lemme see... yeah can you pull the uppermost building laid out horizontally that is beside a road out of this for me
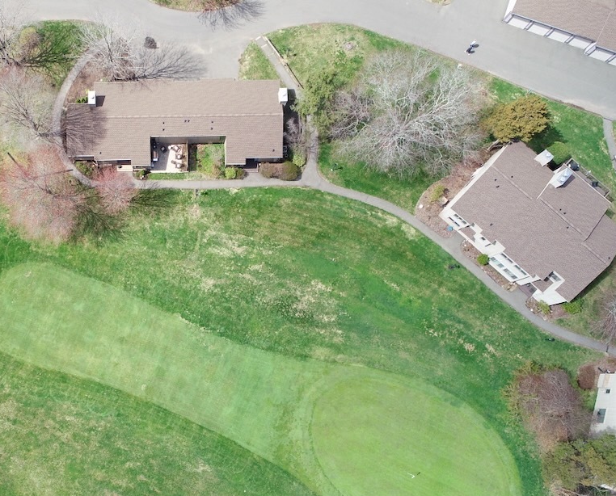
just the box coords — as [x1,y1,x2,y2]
[503,0,613,46]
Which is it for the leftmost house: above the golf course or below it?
above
